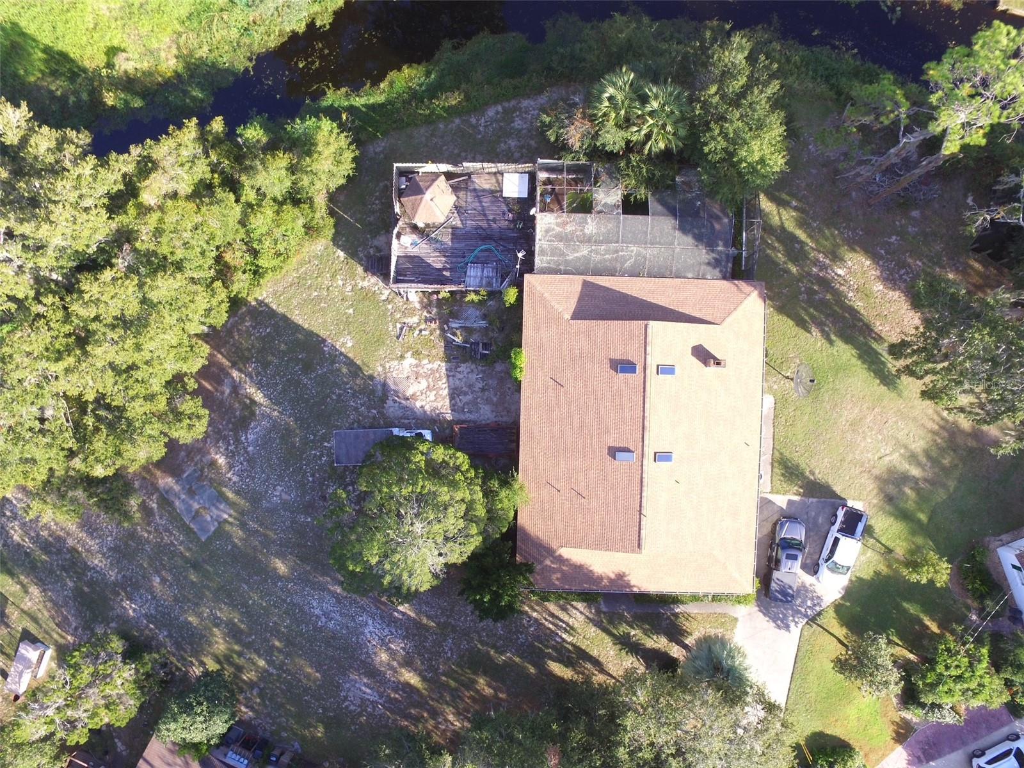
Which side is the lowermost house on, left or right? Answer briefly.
right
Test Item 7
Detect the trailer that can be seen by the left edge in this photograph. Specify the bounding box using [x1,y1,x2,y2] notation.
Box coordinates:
[2,628,62,703]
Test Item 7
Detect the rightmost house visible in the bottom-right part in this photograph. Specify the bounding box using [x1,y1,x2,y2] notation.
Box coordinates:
[987,522,1024,610]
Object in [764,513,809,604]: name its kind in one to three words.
truck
